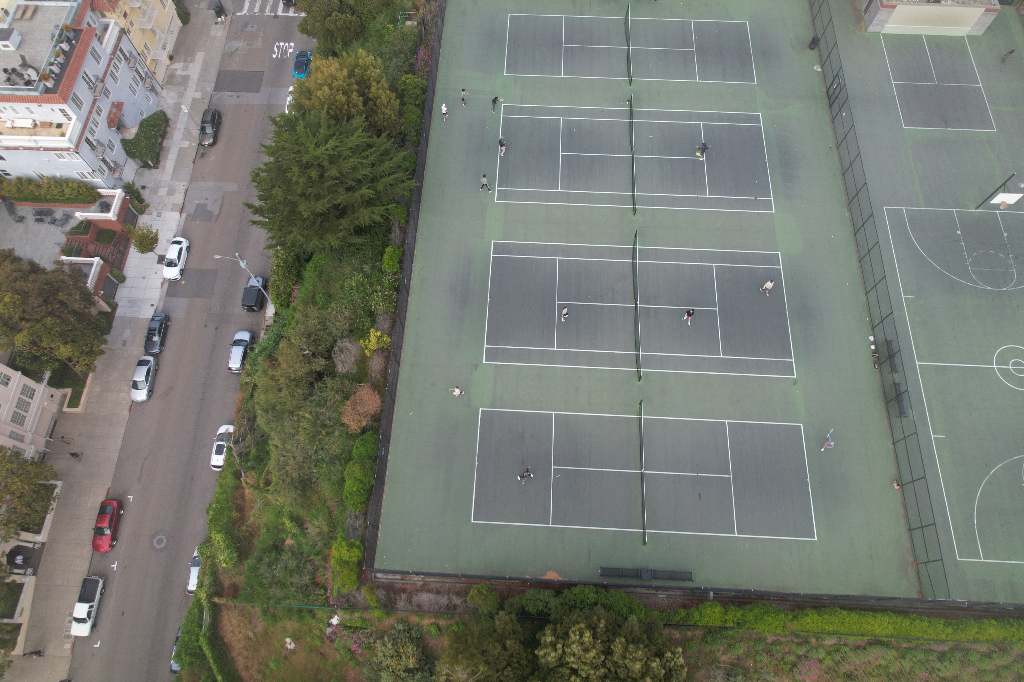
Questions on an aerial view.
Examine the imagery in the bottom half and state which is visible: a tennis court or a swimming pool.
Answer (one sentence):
There is a tennis court in the bottom half.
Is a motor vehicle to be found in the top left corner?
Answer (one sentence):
Yes, a motor vehicle shows up in the top left corner.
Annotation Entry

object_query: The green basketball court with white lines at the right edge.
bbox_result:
[884,207,1024,564]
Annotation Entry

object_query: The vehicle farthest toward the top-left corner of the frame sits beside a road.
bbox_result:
[194,108,221,147]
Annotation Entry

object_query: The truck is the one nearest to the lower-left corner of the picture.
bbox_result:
[68,575,107,639]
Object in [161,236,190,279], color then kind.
white car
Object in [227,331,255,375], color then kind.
white car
